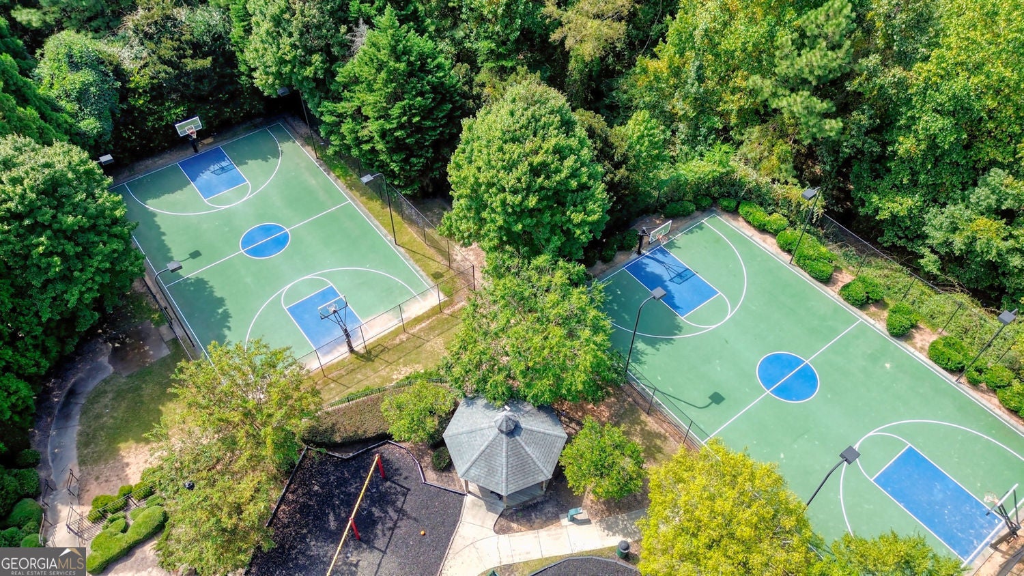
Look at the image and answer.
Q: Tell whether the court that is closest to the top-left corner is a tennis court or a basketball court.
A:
basketball court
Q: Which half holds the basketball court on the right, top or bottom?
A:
bottom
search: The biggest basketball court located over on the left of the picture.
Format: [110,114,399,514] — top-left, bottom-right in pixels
[123,116,452,415]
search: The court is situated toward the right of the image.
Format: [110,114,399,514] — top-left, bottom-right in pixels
[552,206,1024,576]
